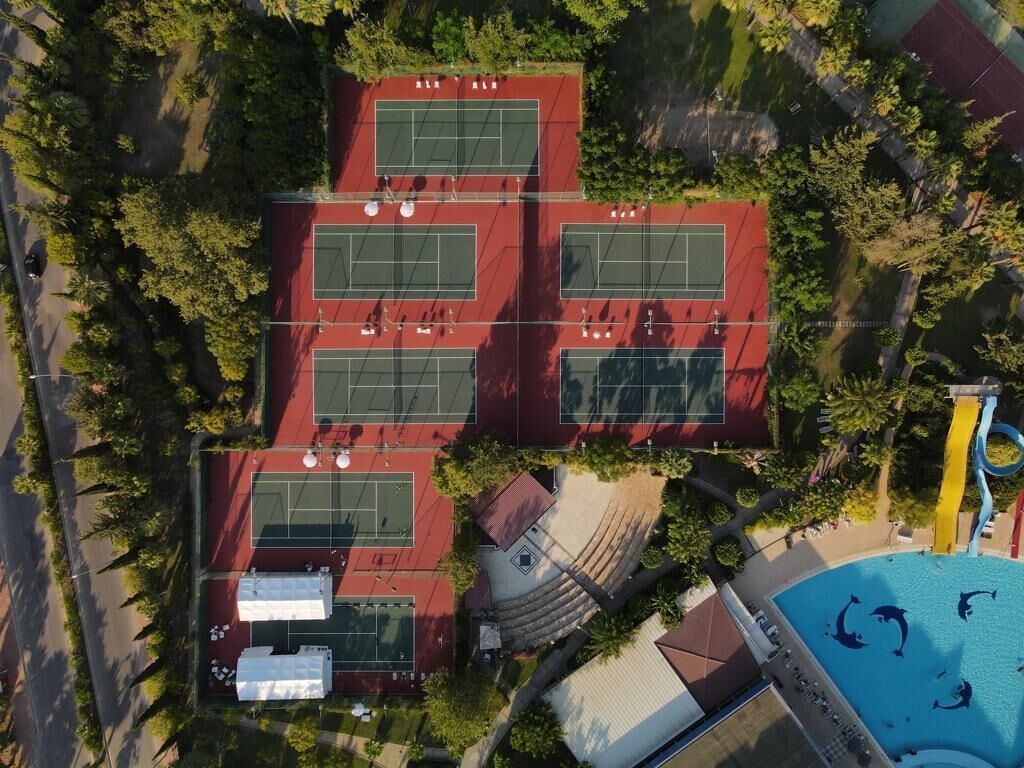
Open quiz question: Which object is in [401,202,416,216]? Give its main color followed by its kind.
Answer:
white umbrella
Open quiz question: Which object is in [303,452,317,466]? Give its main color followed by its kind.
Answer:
white umbrella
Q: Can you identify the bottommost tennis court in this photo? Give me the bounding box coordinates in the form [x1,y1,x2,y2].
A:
[205,575,452,694]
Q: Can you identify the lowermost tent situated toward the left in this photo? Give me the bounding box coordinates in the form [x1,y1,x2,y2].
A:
[237,641,334,699]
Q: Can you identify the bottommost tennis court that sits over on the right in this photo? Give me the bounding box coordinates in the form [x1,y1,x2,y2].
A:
[519,324,769,447]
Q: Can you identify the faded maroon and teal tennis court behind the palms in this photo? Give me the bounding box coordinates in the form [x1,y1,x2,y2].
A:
[855,0,1024,206]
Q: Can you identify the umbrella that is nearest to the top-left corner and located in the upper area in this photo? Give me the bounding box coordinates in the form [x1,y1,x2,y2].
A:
[365,202,379,216]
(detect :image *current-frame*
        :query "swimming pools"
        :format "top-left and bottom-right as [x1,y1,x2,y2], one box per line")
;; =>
[761,545,1024,768]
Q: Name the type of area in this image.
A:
sports ground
